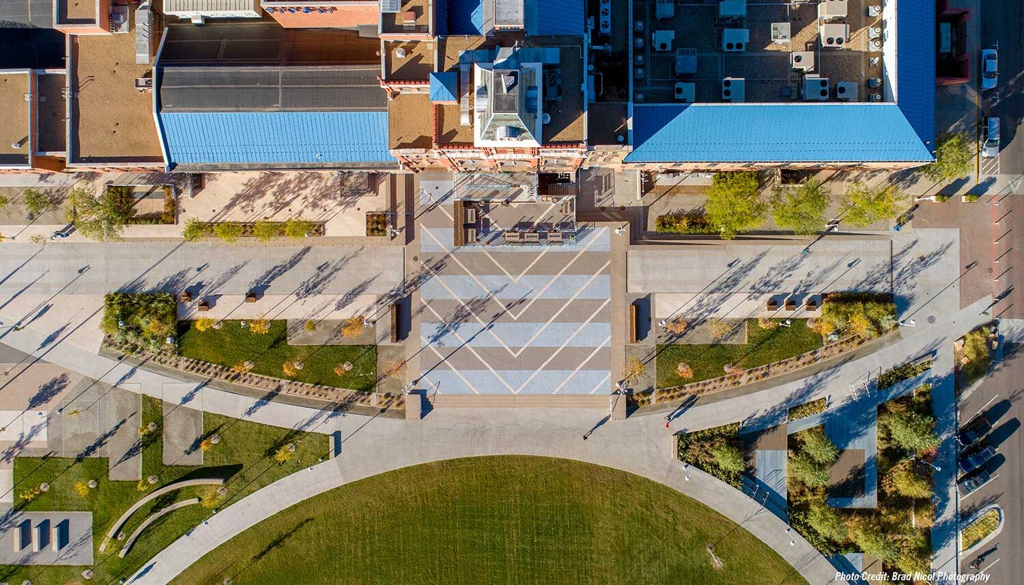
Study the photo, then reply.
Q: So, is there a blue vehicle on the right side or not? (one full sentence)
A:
Yes, a blue vehicle is visible on the right side.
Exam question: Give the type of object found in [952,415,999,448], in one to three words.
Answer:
truck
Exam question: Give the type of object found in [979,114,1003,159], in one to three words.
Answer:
truck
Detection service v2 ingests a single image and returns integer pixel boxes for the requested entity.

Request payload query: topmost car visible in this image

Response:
[979,48,1001,88]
